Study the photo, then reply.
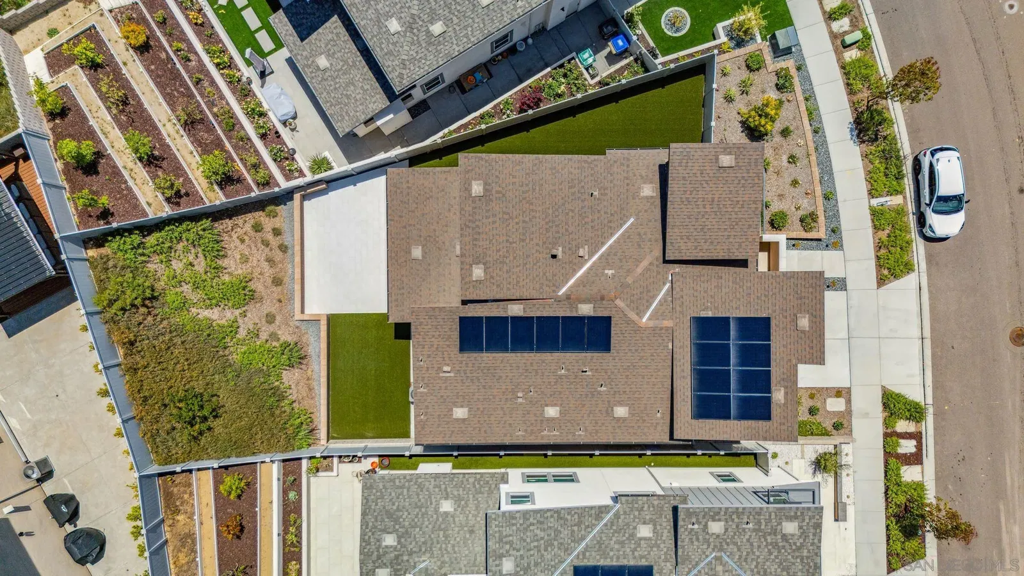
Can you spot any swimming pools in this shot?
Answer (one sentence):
No, I can't see a single swimming pool in this photo.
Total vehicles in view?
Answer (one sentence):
The photo contains exactly 1 vehicle.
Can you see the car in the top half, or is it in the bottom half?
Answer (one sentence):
The car is in the top half of the image.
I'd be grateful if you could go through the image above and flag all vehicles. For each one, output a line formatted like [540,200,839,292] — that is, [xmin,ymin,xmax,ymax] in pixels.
[912,147,972,238]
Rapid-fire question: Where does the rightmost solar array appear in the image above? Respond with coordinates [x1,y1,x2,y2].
[691,317,771,420]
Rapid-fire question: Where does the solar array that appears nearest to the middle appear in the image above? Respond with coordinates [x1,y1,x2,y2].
[459,316,611,352]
